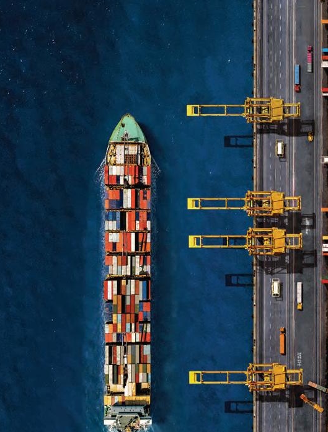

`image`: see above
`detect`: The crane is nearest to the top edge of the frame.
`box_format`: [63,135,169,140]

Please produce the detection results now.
[186,97,300,128]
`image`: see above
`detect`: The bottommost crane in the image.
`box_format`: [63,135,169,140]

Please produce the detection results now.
[189,362,302,393]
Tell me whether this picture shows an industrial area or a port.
port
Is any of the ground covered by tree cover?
No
